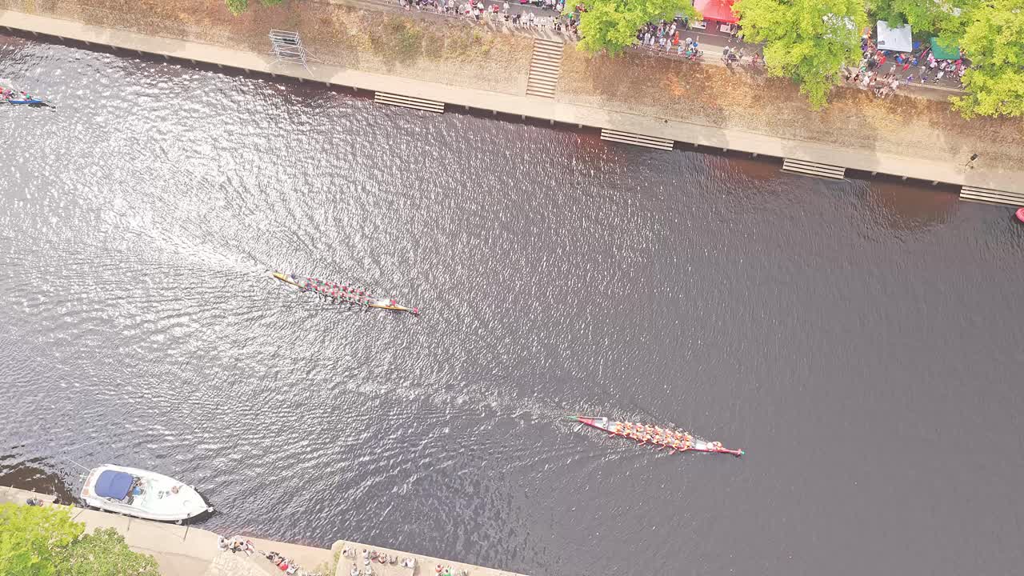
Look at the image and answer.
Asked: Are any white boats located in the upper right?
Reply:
No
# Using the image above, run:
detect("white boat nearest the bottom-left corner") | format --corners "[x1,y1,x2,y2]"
[69,429,215,525]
